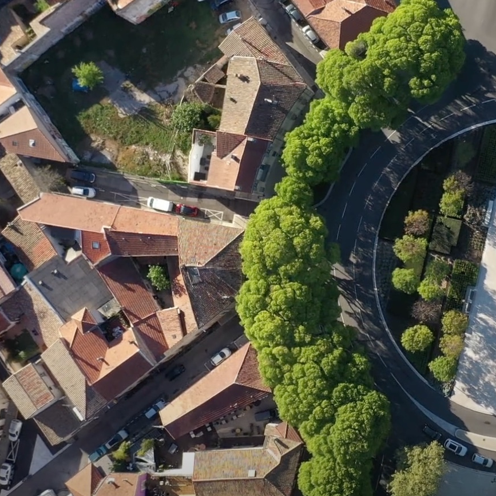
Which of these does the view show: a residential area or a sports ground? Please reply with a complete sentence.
The area seen from above is a residential area.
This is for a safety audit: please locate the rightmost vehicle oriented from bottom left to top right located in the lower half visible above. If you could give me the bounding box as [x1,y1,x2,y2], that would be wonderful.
[209,347,233,365]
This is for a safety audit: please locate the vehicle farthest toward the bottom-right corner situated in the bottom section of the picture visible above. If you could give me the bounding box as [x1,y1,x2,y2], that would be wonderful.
[471,453,493,468]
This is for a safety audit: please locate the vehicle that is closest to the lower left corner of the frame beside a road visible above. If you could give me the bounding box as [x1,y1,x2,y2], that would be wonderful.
[0,461,15,487]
